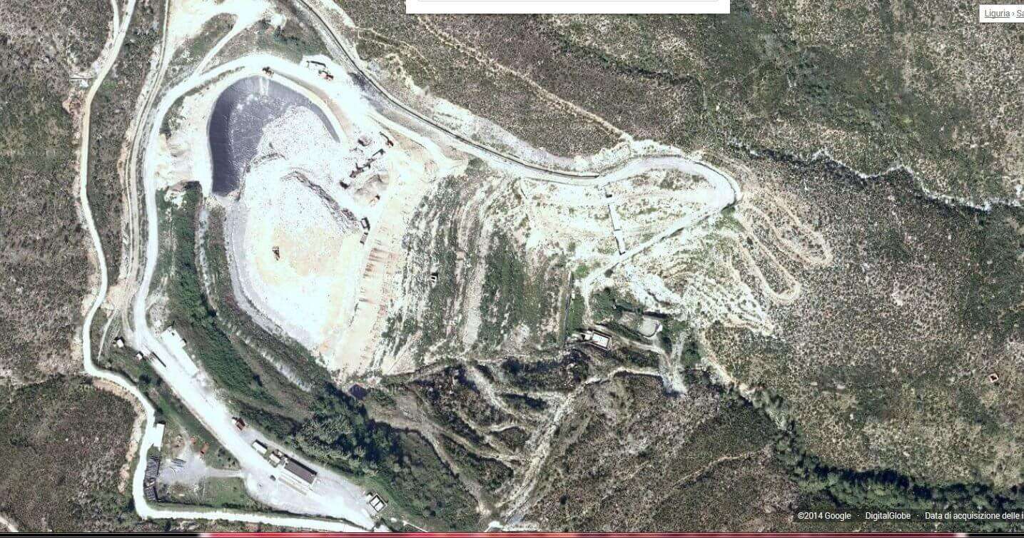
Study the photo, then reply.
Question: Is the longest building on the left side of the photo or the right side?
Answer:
left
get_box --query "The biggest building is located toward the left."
[281,460,317,487]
